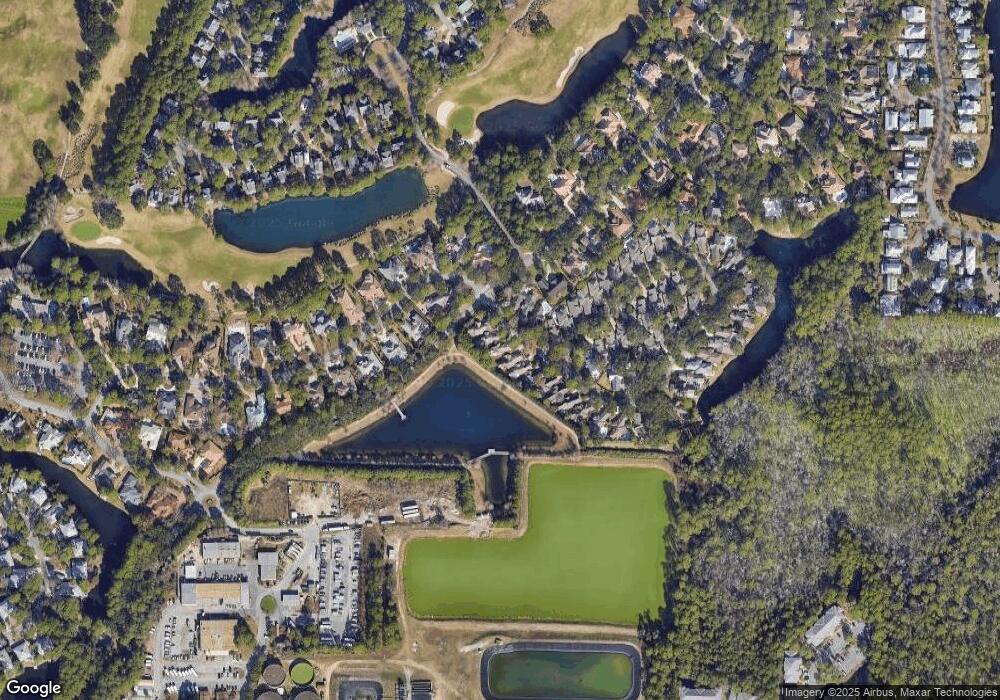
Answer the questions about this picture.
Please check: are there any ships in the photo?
No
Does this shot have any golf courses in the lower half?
No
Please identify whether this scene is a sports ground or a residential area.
residential area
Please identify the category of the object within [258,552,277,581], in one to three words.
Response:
shed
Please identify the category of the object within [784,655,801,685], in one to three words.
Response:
barn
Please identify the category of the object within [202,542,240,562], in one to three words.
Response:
building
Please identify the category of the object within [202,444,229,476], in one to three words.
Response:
house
